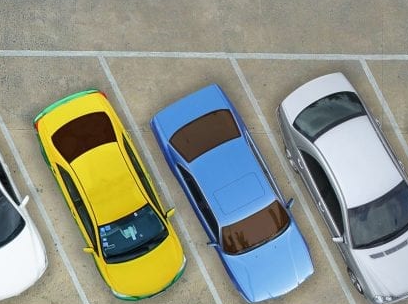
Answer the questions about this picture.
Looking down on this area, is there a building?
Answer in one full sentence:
No, no building is visible in the scene.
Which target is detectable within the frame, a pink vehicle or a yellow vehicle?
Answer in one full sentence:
I can see a yellow vehicle in this picture.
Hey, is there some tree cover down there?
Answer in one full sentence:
No, the scene doesn't show any tree cover.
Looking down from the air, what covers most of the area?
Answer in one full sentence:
For the most part, this view shows paved ground.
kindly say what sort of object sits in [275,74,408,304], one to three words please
car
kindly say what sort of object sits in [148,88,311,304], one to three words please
car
